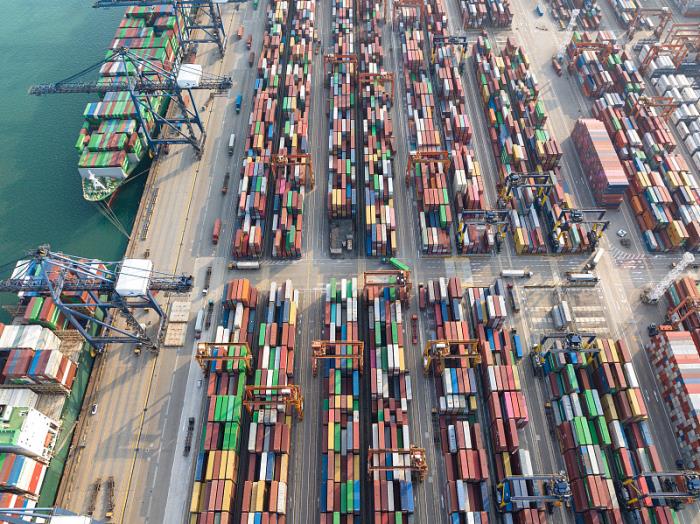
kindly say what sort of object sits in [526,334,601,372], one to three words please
container crane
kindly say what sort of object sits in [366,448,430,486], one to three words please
container crane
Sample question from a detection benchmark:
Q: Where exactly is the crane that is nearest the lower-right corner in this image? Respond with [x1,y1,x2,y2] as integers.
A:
[612,471,700,510]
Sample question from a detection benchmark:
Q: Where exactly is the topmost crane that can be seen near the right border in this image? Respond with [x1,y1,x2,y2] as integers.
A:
[626,5,674,40]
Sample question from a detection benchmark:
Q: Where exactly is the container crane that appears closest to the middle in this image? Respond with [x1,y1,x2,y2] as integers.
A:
[362,268,413,308]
